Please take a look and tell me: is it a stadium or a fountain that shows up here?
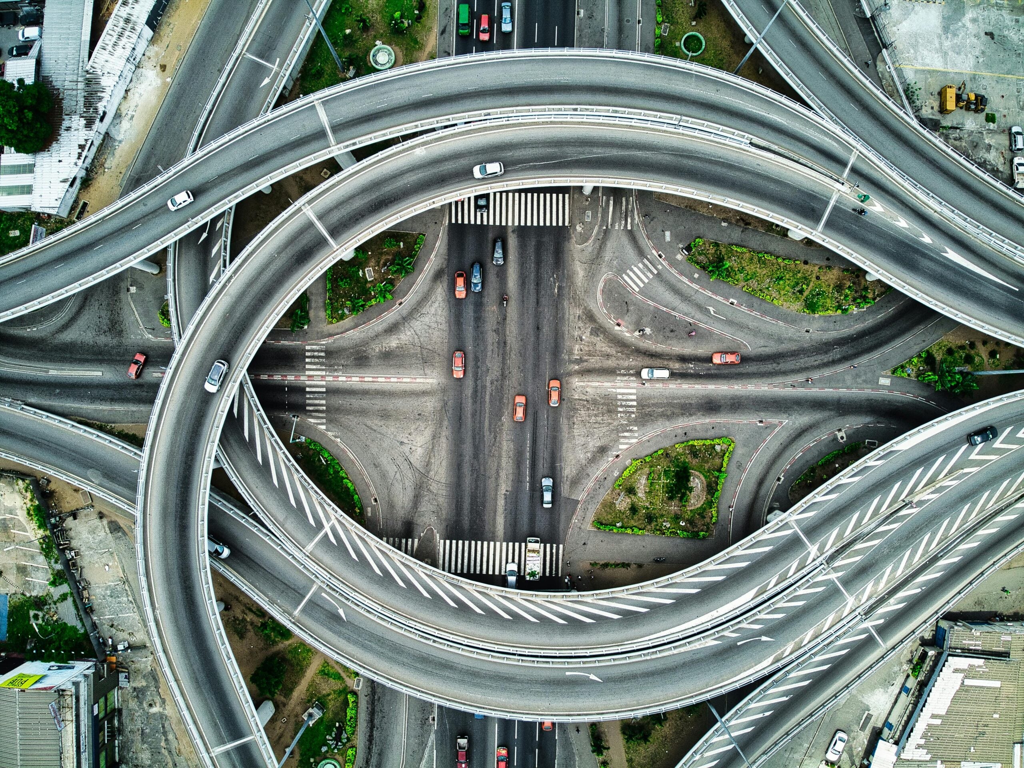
fountain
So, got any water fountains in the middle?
No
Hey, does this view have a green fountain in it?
Yes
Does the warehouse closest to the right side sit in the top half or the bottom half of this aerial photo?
bottom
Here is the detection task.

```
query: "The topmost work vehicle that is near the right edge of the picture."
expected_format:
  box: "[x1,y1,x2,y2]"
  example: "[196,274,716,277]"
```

[959,78,989,116]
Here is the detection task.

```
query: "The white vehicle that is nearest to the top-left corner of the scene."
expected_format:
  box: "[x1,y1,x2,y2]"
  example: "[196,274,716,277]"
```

[17,25,43,42]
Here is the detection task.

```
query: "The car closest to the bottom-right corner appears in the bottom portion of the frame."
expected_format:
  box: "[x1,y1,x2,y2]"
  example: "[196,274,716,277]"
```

[827,729,846,759]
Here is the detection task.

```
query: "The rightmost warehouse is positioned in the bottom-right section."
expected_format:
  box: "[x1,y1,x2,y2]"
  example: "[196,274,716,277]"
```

[886,615,1024,768]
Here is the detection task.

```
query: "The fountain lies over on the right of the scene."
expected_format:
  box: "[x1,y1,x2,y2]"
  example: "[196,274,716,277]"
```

[681,30,707,56]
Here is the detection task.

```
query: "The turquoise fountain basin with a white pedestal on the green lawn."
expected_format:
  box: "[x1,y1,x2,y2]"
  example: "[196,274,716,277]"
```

[369,42,395,69]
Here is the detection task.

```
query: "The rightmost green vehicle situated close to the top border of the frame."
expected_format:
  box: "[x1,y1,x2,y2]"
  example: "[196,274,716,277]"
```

[457,1,470,36]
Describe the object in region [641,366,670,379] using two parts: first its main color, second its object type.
white vehicle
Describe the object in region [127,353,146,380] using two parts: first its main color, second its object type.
red car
